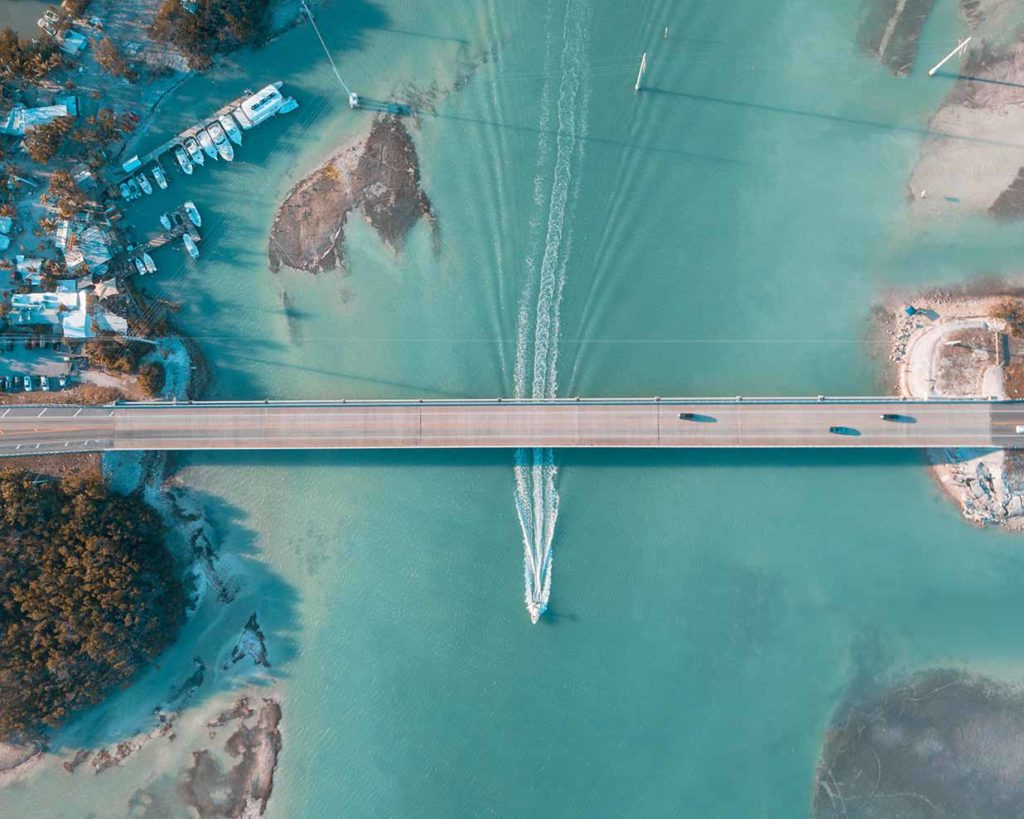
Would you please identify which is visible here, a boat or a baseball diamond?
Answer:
boat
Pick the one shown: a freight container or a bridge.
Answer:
bridge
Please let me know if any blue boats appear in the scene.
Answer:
Yes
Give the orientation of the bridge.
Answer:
from left to right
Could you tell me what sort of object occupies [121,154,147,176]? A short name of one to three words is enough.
shed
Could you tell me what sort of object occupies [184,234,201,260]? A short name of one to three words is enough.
boat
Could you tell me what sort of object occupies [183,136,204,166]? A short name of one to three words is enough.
boat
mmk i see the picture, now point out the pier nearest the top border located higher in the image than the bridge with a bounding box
[110,94,250,188]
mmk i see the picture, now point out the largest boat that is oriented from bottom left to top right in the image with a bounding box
[232,89,285,133]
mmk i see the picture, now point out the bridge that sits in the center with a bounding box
[103,399,1004,451]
